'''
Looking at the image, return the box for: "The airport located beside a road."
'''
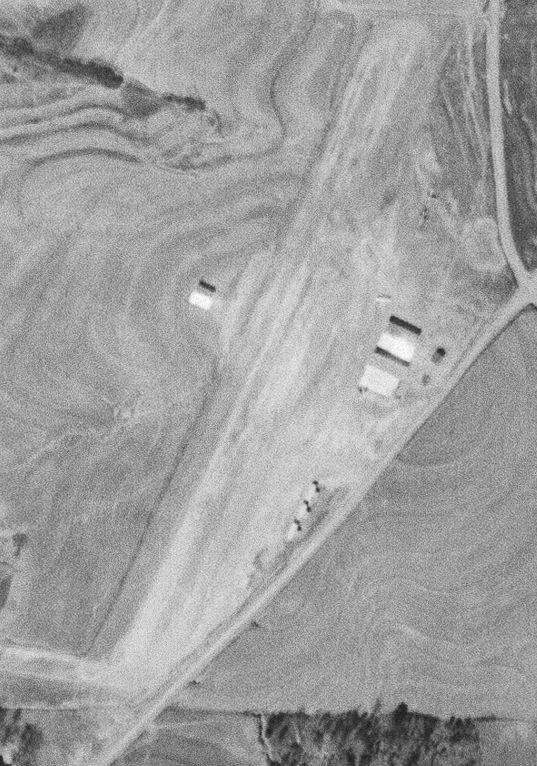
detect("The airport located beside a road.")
[108,24,470,672]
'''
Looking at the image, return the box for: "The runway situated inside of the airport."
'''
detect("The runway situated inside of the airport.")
[108,24,444,672]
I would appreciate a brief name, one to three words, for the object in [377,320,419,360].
hangar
